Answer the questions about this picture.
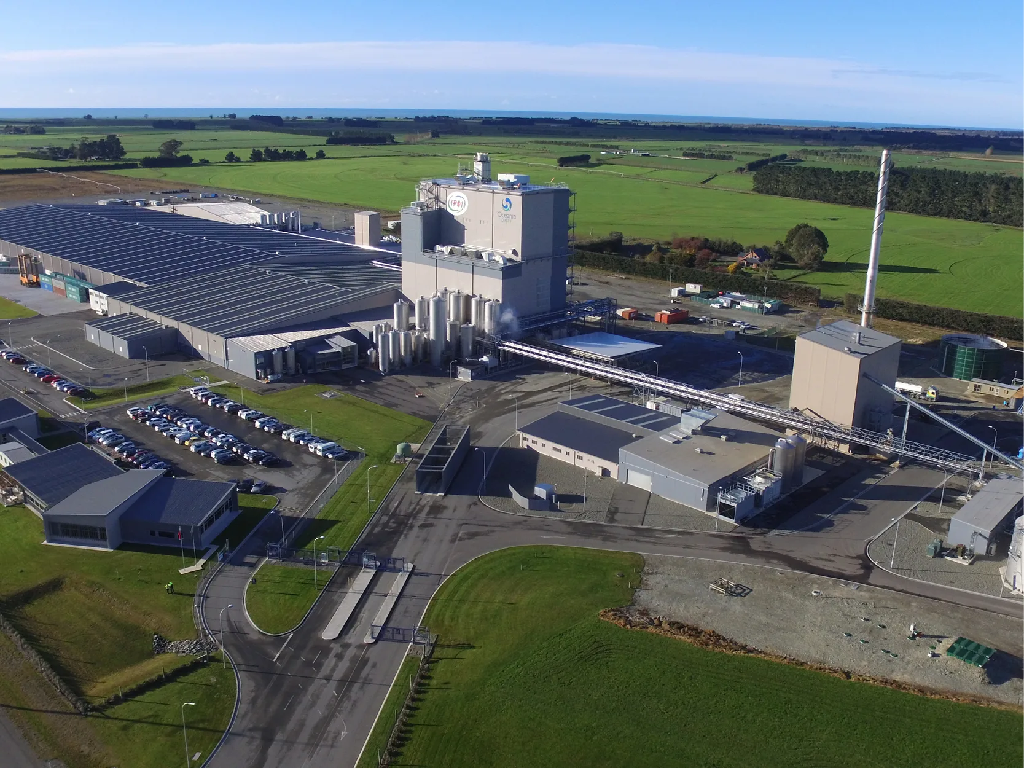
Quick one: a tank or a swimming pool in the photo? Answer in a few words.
tank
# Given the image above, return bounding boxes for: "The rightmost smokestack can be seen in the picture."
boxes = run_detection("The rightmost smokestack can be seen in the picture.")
[861,149,898,331]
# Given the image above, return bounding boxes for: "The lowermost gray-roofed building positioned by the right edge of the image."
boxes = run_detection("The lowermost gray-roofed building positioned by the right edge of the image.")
[944,470,1024,556]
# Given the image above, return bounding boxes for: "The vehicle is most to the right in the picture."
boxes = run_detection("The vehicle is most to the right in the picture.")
[899,382,950,400]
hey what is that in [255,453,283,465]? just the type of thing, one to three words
vehicle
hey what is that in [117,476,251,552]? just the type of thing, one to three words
building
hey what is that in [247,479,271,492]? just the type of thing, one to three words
vehicle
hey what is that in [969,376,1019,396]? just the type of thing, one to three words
building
